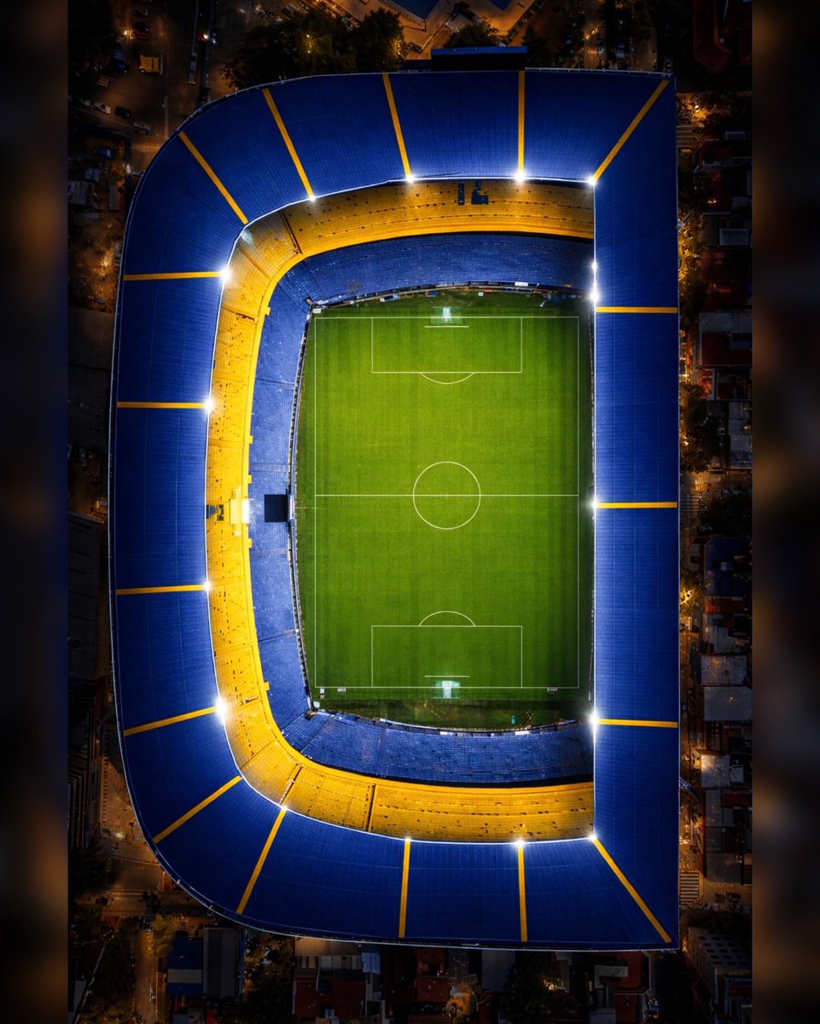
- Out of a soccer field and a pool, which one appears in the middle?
soccer field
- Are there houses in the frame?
Yes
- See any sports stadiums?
Yes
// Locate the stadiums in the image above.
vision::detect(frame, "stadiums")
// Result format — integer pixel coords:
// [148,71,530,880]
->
[107,43,678,953]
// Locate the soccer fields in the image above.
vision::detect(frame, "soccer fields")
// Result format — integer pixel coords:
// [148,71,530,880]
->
[298,291,593,722]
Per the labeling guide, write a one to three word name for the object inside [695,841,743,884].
house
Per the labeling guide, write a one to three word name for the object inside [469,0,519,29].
building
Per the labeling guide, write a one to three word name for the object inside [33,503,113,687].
house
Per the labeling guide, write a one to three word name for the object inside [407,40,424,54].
car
